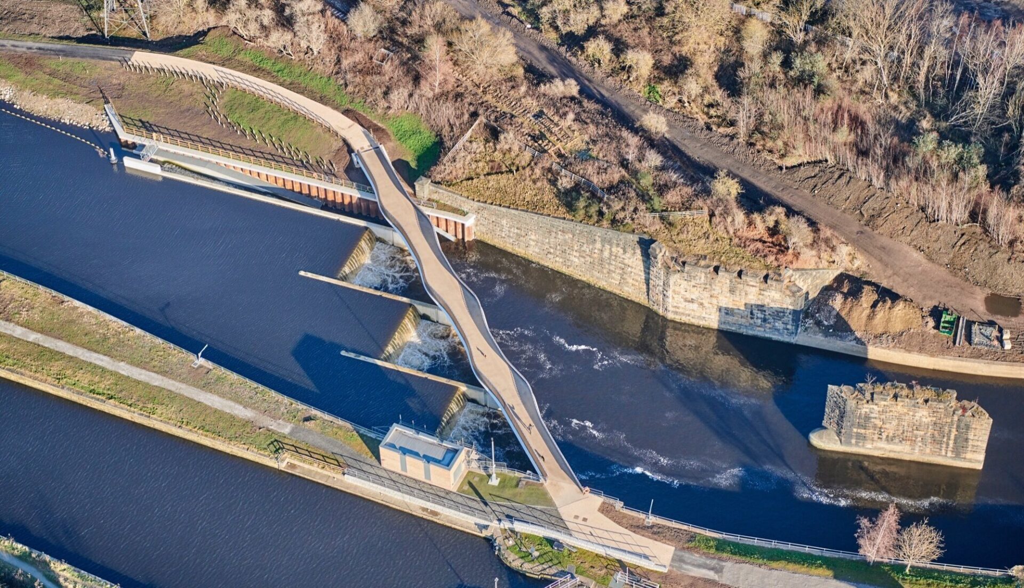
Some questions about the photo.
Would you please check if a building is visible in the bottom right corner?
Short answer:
No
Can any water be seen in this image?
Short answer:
Yes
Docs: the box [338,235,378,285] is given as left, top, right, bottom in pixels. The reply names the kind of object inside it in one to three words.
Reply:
dam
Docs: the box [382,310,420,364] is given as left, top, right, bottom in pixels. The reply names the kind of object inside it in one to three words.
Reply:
dam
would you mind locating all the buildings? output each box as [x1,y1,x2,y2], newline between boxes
[379,417,474,493]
